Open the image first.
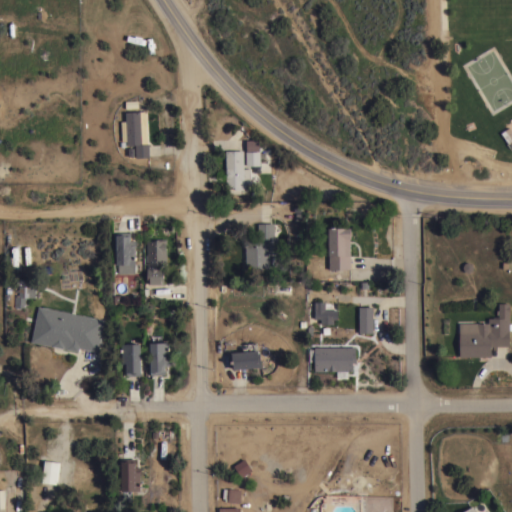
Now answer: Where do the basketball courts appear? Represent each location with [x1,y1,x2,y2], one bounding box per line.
[464,48,512,115]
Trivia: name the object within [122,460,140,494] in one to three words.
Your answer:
house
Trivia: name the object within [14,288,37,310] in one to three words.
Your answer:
house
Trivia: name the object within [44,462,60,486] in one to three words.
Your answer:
barn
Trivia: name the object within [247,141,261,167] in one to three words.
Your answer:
shed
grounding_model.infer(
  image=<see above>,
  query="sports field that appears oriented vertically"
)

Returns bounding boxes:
[450,0,512,163]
